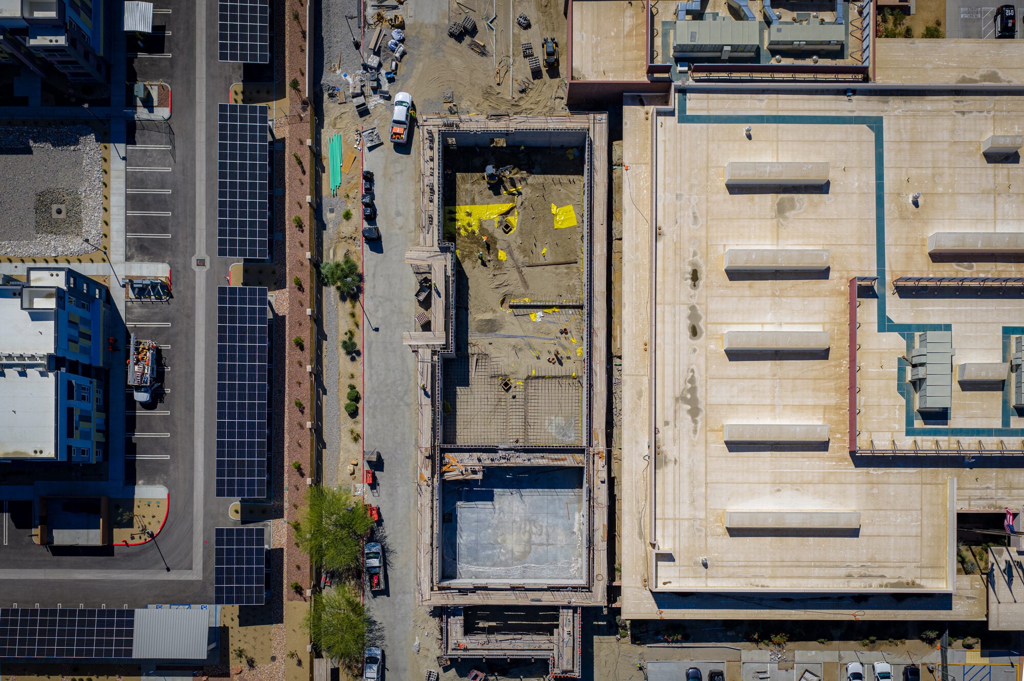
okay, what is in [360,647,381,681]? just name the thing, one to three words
truck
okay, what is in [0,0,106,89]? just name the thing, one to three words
building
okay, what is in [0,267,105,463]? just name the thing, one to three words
building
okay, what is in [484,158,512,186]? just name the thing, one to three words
work vehicle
